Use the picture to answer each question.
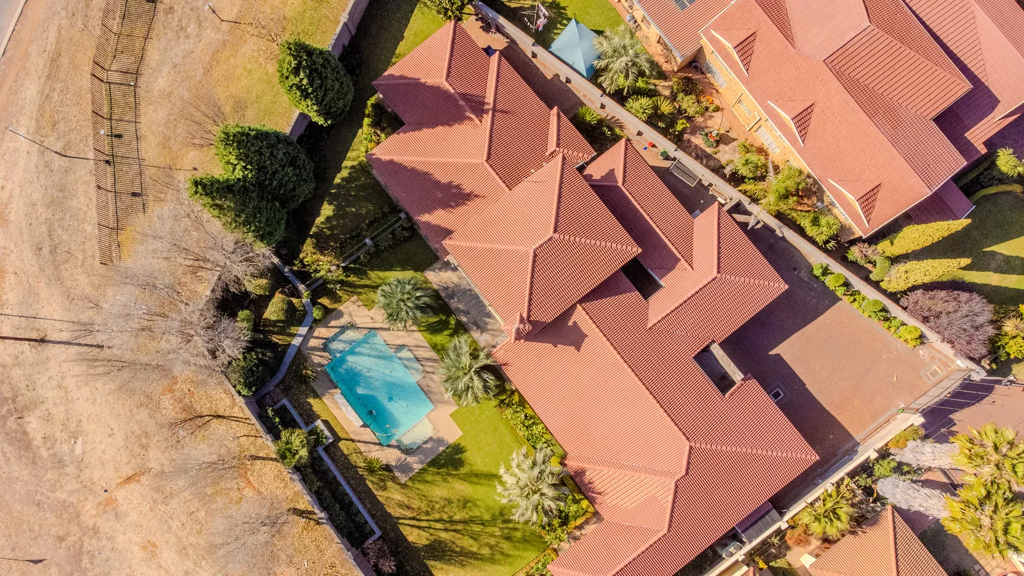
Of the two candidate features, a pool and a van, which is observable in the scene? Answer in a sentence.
The one in the frame is a pool.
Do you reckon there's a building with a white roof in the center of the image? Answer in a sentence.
No, there's no building with a white roof to be seen in the center of the image.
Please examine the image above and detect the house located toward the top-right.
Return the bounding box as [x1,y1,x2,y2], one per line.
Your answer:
[617,0,1024,237]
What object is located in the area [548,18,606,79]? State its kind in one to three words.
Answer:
gazebo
